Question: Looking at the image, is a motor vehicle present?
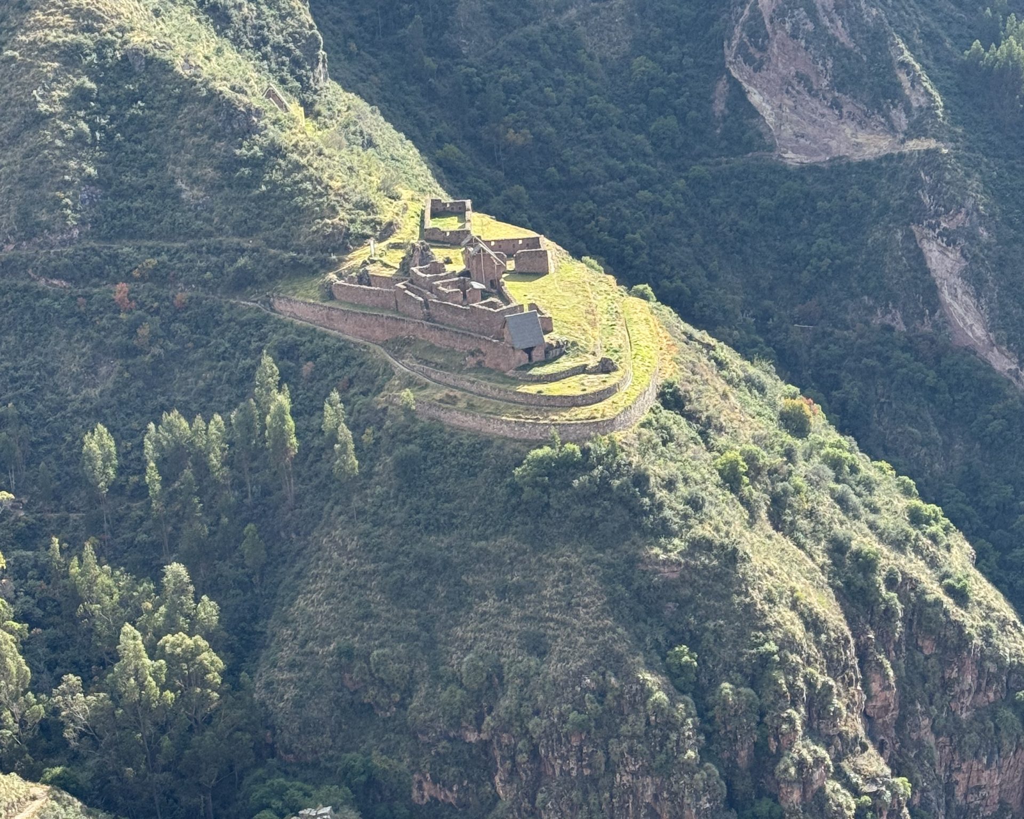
No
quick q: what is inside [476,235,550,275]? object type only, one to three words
building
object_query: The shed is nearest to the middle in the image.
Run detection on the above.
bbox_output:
[505,309,549,373]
